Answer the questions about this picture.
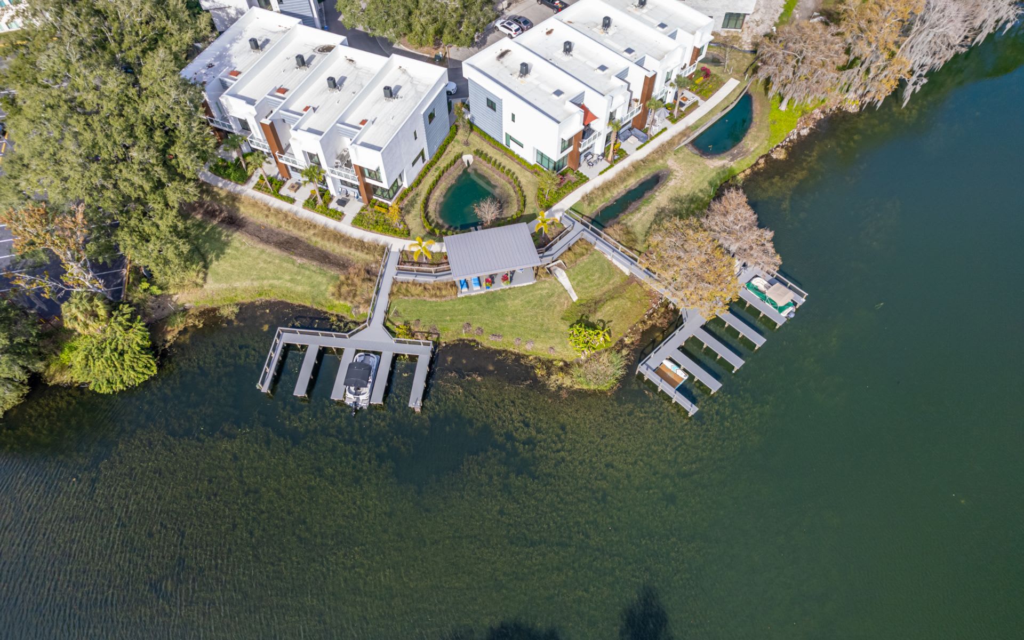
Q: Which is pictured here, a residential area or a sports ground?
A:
residential area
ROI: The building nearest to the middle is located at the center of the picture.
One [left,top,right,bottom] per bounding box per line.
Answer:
[443,222,541,299]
